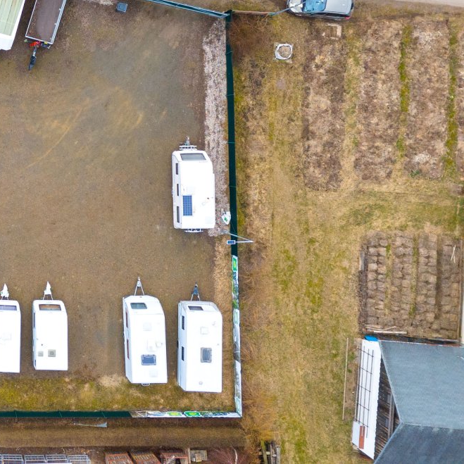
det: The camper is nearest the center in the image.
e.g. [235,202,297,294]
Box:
[168,137,217,231]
